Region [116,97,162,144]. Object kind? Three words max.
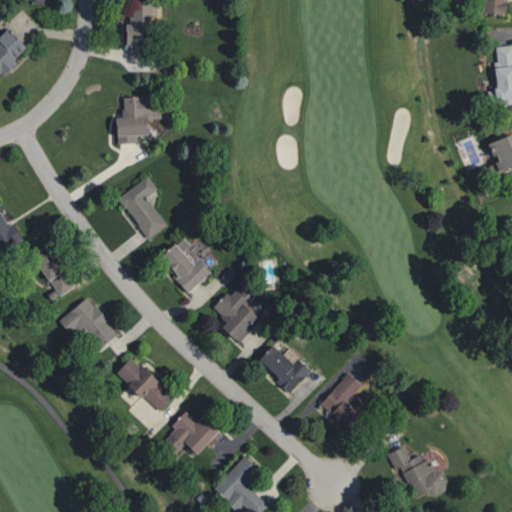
house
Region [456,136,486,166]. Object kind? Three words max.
swimming pool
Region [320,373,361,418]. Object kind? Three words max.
house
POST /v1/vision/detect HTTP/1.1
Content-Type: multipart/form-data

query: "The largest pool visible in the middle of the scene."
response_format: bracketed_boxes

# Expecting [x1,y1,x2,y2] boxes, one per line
[259,258,279,290]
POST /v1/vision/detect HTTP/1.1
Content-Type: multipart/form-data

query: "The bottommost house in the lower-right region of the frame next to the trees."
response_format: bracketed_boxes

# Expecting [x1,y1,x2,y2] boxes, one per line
[389,447,447,501]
